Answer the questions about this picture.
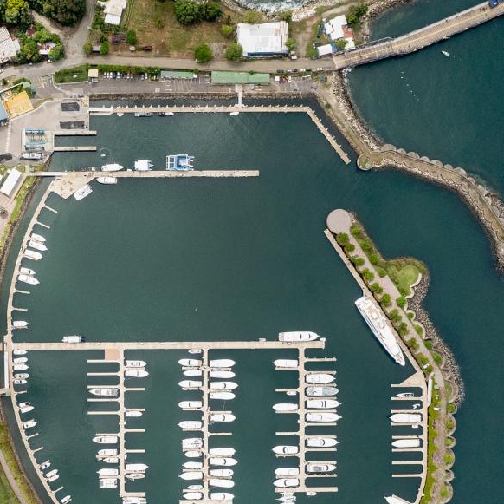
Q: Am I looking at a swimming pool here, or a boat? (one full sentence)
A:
The image shows a boat.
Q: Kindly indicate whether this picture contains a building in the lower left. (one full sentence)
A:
No, in the lower left there is no building.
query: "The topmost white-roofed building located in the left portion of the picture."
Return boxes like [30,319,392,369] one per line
[99,0,126,27]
